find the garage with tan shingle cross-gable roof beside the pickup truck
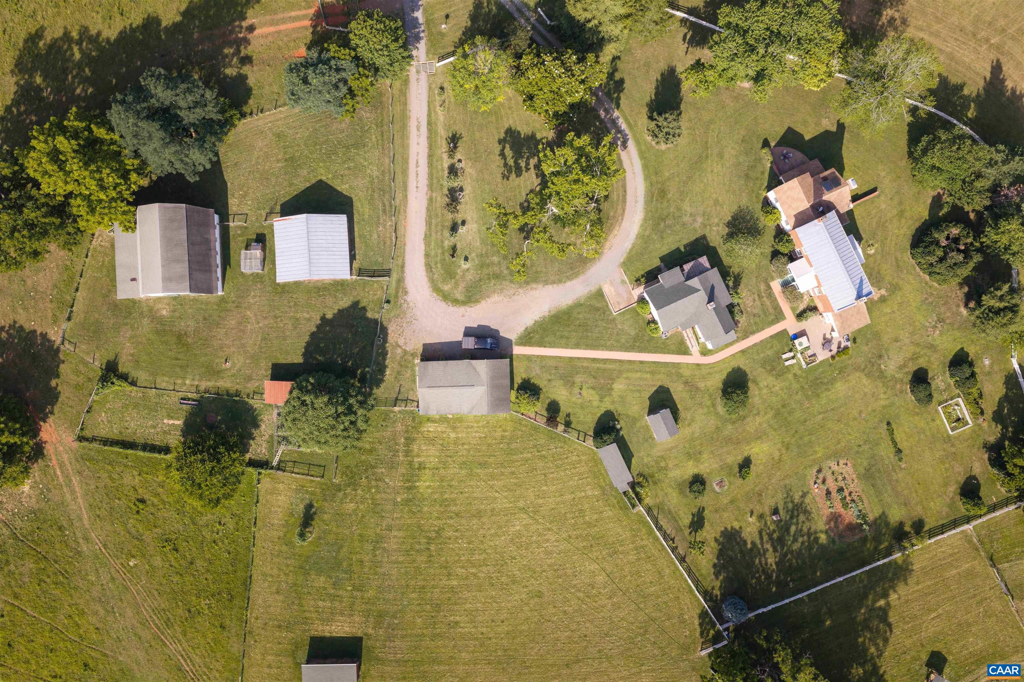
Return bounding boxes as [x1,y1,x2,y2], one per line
[418,359,511,415]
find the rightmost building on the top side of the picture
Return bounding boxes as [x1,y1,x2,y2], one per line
[764,159,875,337]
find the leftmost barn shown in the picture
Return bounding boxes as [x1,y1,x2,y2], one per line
[115,203,221,301]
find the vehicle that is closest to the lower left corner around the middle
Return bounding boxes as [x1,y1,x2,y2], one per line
[460,336,499,351]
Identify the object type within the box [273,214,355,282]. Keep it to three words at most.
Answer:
barn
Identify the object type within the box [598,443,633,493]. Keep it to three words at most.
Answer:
shed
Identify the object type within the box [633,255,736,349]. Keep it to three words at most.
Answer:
house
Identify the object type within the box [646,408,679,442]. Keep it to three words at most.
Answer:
shed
